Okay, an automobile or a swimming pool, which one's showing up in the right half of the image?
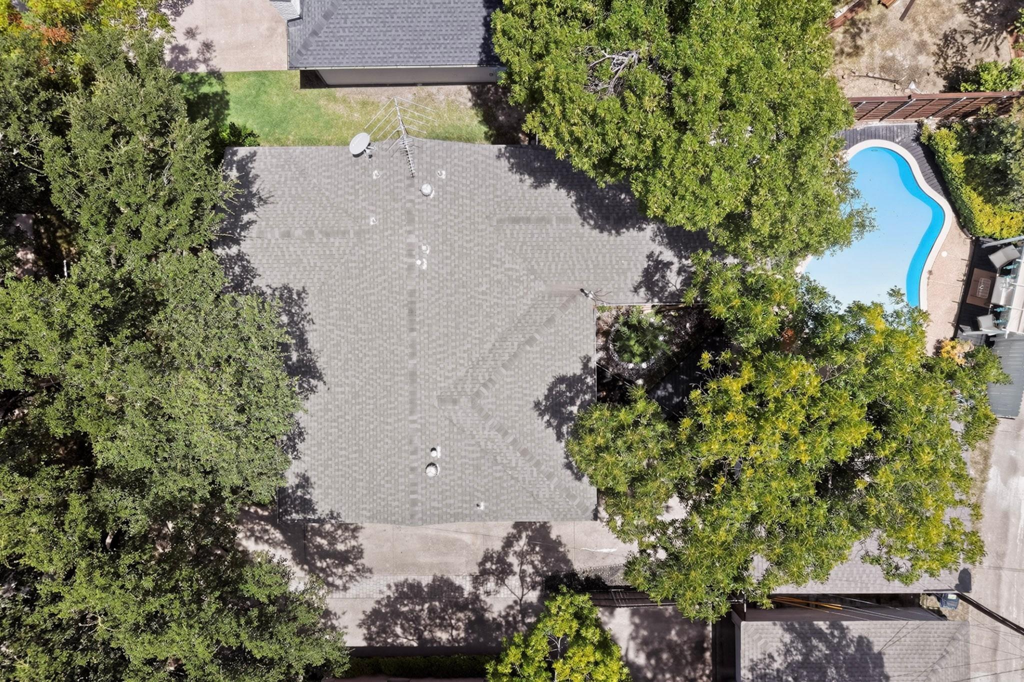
swimming pool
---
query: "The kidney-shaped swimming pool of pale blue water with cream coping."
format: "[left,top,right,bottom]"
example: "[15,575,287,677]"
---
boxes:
[788,137,954,370]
